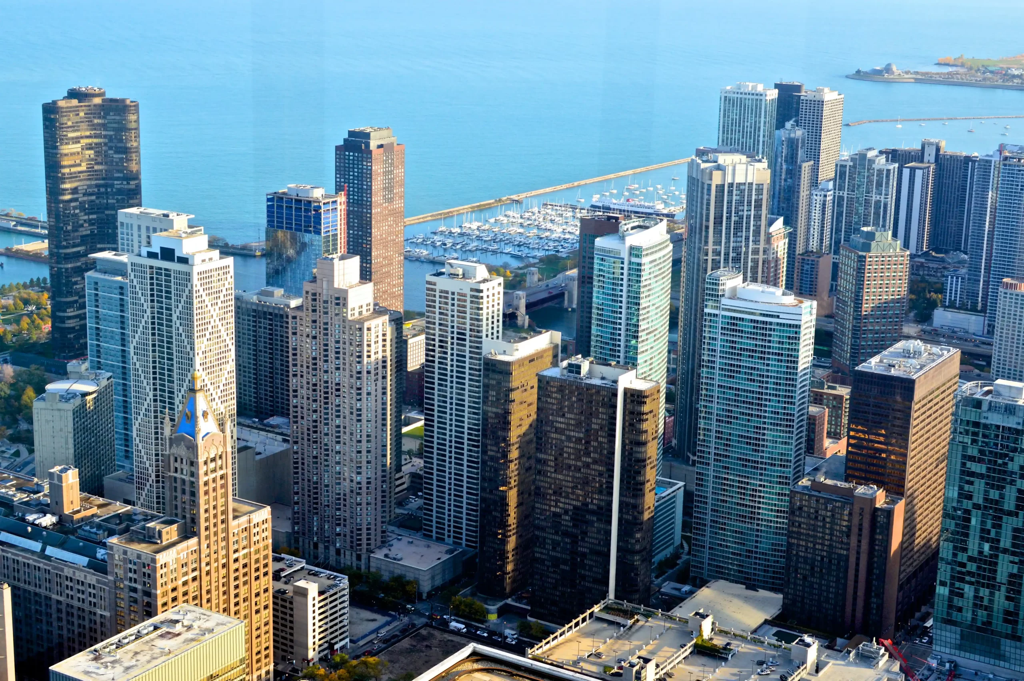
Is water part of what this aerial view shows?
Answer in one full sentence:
Yes, water can be seen from above here.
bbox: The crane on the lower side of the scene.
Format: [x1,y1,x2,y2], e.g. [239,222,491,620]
[882,629,955,681]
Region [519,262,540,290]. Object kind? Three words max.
house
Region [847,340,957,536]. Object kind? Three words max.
building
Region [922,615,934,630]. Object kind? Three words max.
vehicle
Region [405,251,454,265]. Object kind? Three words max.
pier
